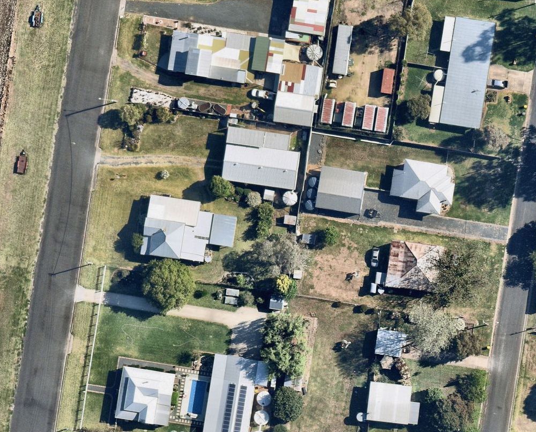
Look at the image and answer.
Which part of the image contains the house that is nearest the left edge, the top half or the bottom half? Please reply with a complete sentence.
Seen from above, the house that is nearest the left edge lies in the bottom half of the view.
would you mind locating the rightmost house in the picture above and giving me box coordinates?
[428,16,497,129]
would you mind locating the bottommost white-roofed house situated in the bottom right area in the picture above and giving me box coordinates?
[366,382,420,425]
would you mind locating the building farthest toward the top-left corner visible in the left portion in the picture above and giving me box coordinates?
[168,30,253,83]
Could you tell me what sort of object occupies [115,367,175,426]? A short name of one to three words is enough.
house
